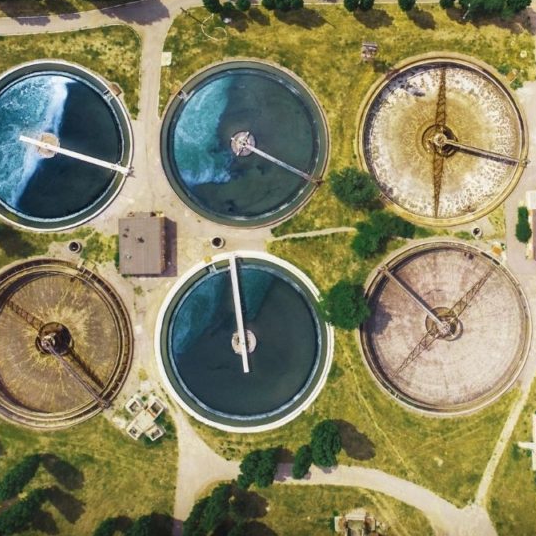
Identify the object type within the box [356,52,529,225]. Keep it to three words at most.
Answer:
storage tank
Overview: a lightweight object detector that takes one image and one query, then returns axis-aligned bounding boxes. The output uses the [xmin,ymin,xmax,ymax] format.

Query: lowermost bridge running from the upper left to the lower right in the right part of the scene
[379,264,447,331]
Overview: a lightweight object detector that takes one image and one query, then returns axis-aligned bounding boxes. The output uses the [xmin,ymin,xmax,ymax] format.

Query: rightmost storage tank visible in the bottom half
[357,240,534,417]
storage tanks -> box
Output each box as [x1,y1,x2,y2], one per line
[160,59,330,229]
[0,60,135,231]
[356,52,529,225]
[0,257,135,429]
[154,251,335,432]
[357,240,534,417]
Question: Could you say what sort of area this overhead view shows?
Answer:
industrial area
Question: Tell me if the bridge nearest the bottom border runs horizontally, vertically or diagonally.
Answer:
diagonally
